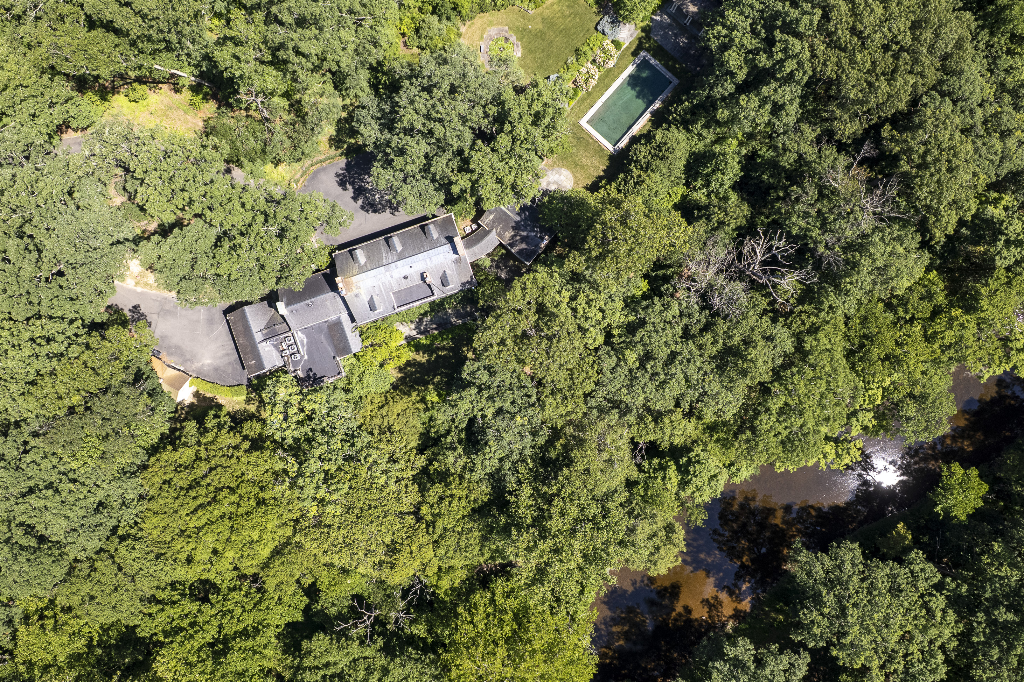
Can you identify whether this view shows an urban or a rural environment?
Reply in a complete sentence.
From above, the setting appears rural.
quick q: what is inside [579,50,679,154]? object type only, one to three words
swimming pool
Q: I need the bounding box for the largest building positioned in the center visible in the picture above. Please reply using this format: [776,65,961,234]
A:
[332,212,477,326]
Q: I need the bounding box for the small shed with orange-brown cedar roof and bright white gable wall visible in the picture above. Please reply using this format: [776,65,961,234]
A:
[152,355,199,402]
